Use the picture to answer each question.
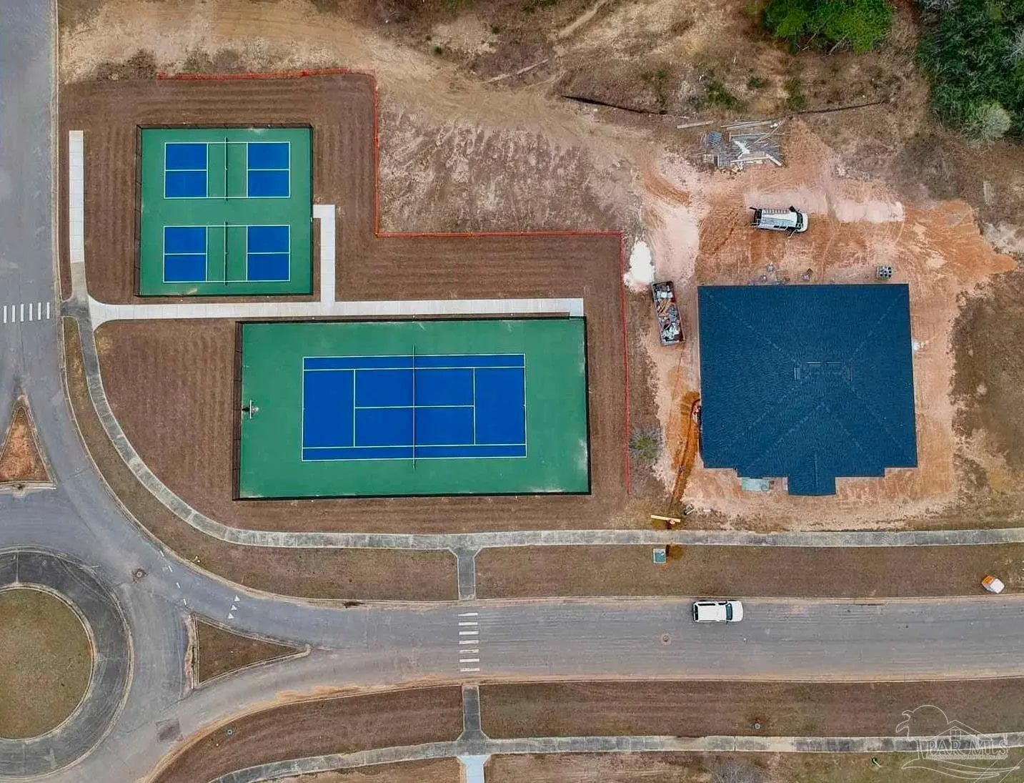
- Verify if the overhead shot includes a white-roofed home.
No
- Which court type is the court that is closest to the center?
tennis court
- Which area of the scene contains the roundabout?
bottom left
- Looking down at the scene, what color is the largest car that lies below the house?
white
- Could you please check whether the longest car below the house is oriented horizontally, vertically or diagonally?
horizontally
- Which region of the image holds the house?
right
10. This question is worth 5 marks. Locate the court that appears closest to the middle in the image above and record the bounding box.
[241,320,588,498]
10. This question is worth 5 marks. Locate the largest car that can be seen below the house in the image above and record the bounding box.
[692,600,743,623]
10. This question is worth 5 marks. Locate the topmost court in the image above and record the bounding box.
[141,128,312,212]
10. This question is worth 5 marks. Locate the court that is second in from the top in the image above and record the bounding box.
[139,211,312,295]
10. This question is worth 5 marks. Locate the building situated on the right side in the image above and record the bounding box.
[697,283,918,495]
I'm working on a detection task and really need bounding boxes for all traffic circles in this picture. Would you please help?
[0,544,135,782]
